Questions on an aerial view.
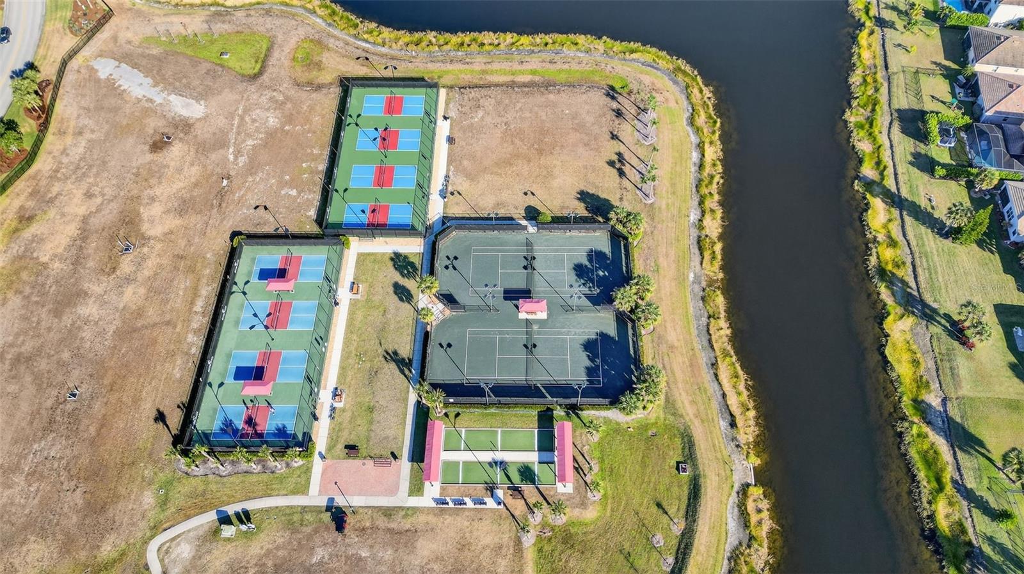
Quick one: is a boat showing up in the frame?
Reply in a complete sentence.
No, there is no boat in the image.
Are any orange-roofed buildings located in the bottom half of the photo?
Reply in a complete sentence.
No, no orange-roofed building appears in the bottom half of the photo.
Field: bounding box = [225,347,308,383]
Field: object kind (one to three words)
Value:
sports court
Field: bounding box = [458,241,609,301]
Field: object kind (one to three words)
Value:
tennis court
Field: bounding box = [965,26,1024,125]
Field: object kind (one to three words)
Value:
house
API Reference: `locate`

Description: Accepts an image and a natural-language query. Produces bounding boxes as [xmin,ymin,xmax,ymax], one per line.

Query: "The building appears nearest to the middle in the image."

[518,299,547,319]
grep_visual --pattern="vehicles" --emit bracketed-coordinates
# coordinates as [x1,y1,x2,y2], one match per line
[0,28,12,43]
[334,516,348,534]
